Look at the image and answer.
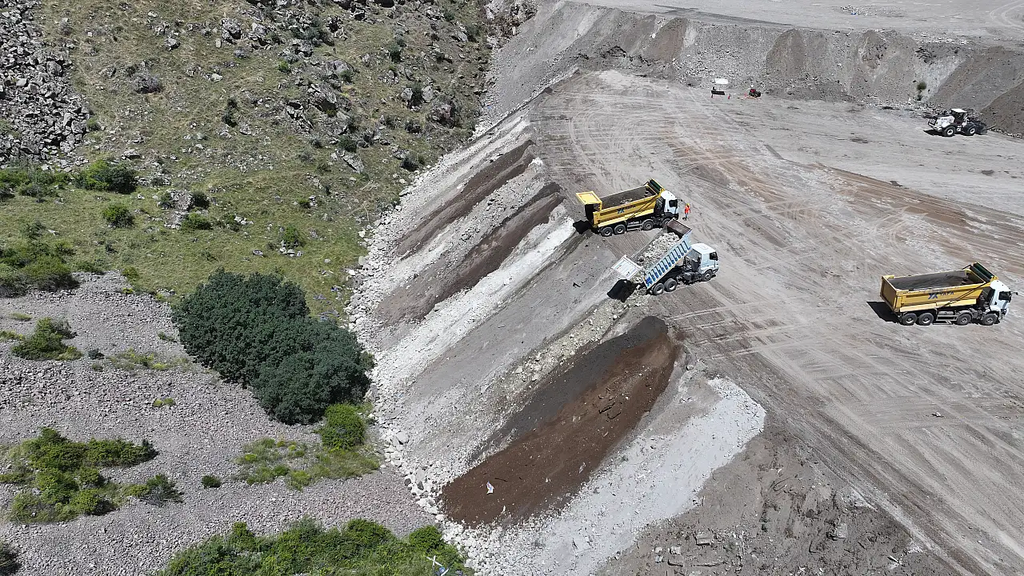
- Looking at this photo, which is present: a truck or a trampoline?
truck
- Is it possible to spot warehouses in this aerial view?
No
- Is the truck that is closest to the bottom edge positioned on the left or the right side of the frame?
right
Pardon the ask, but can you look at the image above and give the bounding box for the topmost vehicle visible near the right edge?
[926,108,988,136]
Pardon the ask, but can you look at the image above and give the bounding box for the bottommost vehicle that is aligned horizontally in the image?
[880,263,1021,324]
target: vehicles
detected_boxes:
[926,108,988,136]
[880,263,1021,324]
[570,179,683,236]
[749,89,762,97]
[612,221,727,295]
